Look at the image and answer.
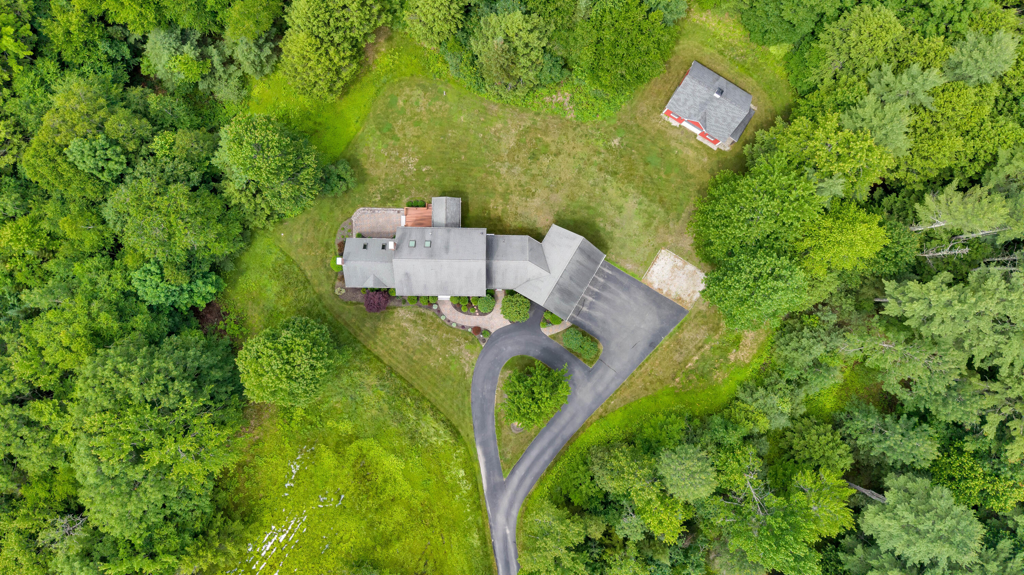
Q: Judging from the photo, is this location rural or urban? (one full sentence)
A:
This place is rural.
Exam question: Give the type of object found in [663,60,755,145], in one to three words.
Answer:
barn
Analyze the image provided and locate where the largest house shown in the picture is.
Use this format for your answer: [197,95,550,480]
[336,196,607,321]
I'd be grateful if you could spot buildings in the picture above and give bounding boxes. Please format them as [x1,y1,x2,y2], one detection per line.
[336,196,607,321]
[663,60,755,145]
